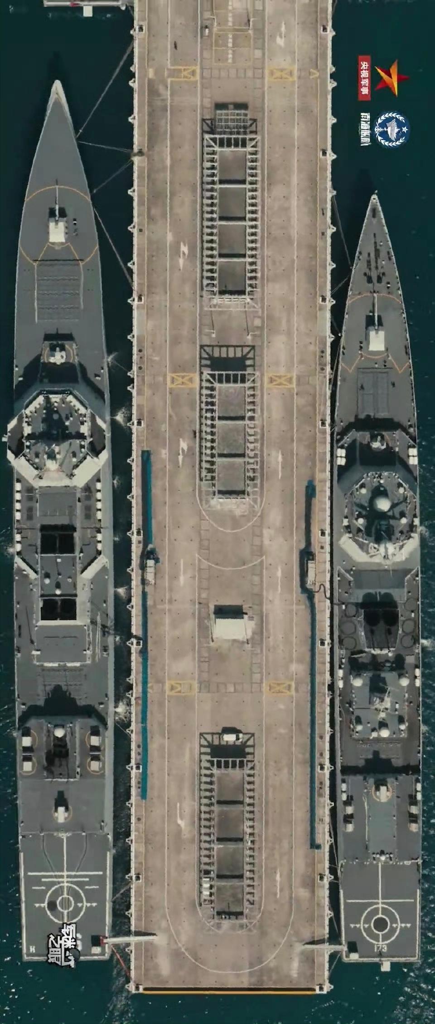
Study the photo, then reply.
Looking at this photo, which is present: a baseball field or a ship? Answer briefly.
ship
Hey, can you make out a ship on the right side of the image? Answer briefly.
Yes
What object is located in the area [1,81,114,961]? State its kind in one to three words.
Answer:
ship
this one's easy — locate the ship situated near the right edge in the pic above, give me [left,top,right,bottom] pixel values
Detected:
[334,190,426,970]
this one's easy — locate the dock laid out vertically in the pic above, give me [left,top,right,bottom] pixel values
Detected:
[131,0,332,993]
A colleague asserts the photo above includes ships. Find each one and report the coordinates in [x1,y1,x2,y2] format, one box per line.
[1,81,114,961]
[334,190,426,970]
[44,0,134,18]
